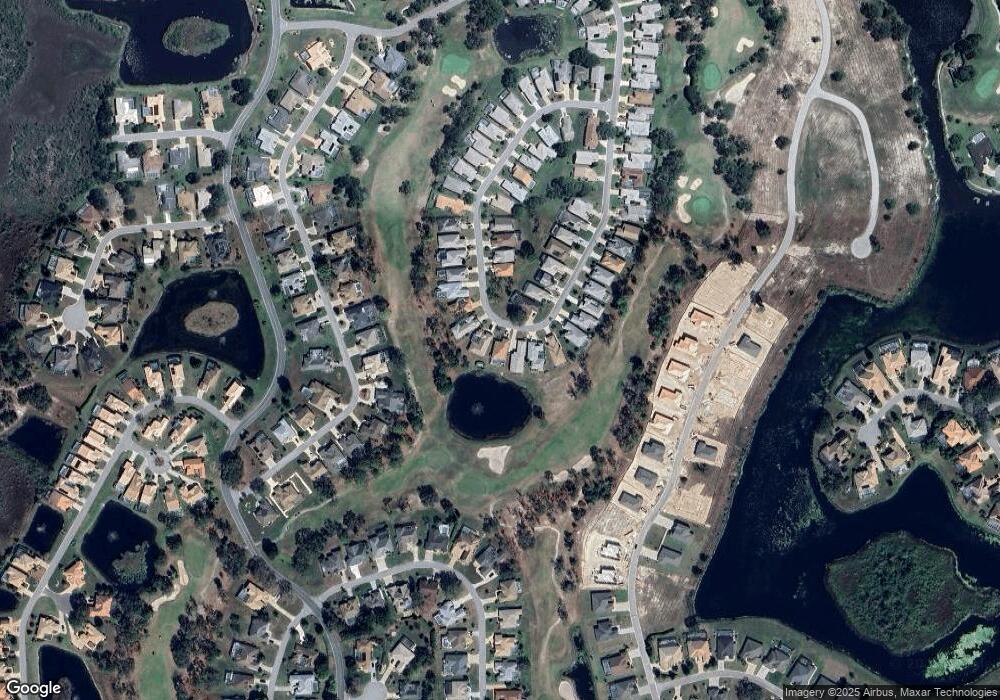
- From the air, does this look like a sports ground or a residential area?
residential area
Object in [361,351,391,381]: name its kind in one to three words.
house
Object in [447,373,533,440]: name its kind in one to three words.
pond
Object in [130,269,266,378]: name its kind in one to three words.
pond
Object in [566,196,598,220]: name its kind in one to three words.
house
